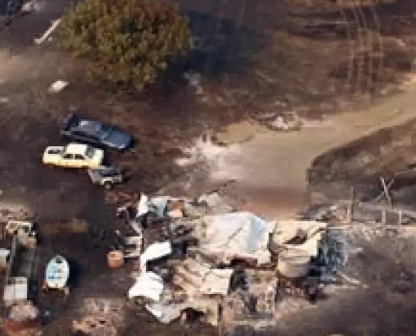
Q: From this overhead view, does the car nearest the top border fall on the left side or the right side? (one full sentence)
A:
The car nearest the top border appears in the left half of the scene.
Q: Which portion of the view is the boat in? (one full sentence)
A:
The boat appears toward the bottom left of the photo.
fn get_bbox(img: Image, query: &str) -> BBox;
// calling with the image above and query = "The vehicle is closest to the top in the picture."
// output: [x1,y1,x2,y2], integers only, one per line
[64,115,132,153]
